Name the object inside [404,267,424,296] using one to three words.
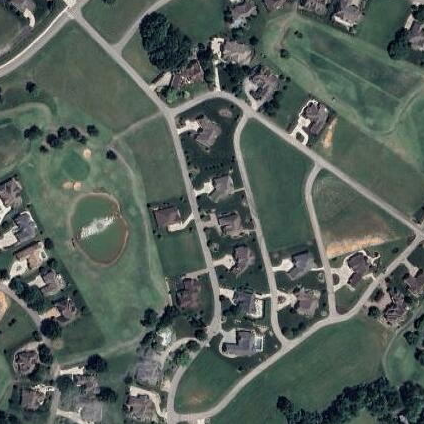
house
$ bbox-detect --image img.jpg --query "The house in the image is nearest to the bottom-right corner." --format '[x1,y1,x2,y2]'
[378,289,415,322]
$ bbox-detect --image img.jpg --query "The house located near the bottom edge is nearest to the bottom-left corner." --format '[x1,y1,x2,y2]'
[16,385,43,408]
